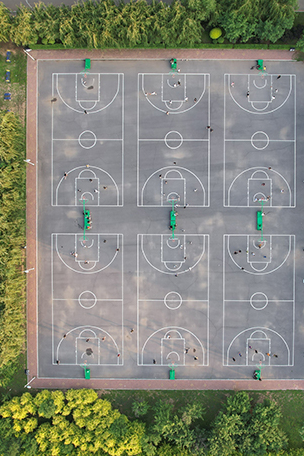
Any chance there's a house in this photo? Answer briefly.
No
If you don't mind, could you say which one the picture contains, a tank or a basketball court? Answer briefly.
basketball court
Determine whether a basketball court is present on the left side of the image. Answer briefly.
Yes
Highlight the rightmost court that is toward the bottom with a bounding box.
[223,234,295,366]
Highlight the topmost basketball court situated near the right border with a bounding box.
[225,74,296,207]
